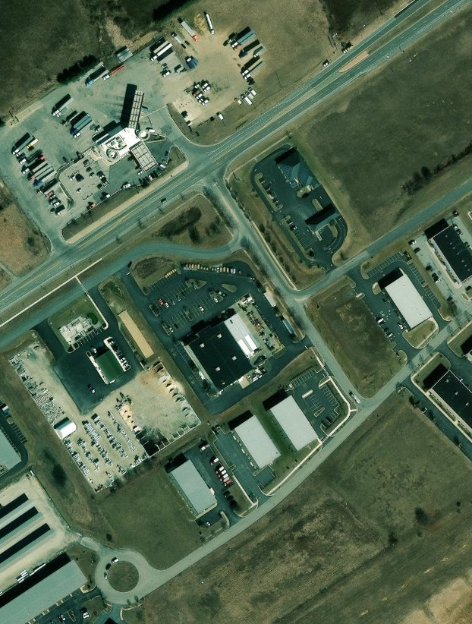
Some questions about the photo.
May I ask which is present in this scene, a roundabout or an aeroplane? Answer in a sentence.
It is a roundabout that can be seen here.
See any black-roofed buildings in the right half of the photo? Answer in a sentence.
Yes, a black-roofed building appears in the right half of the photo.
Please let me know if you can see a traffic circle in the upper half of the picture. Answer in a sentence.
No, looking in the upper half of the picture, there is no traffic circle.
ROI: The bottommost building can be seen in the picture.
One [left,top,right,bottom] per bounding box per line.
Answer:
[0,561,87,624]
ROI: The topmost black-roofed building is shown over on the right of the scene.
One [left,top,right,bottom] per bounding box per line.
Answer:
[429,225,472,285]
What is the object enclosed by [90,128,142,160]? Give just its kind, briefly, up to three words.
service area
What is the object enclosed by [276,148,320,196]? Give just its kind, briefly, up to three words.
building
